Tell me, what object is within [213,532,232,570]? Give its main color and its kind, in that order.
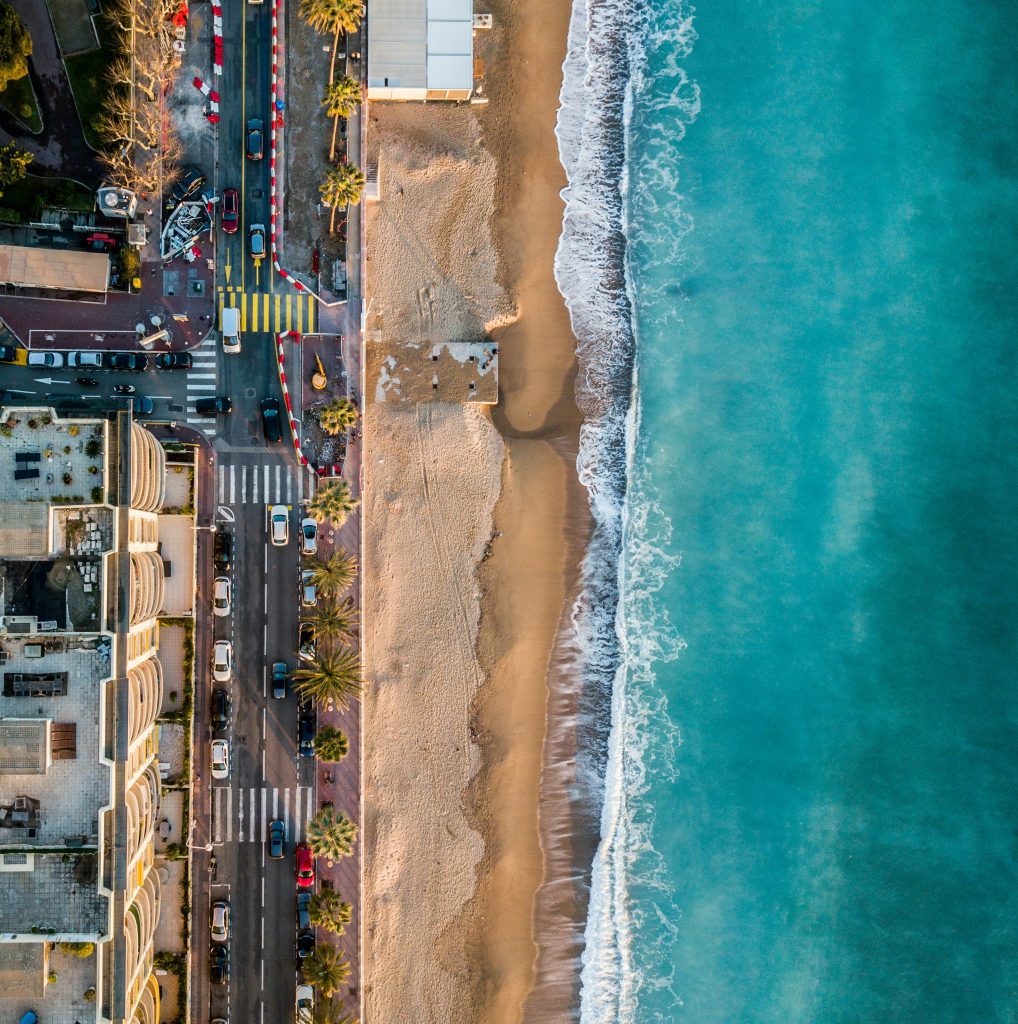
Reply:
black car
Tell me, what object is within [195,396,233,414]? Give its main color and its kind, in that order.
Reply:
black car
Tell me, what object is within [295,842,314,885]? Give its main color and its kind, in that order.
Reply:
red car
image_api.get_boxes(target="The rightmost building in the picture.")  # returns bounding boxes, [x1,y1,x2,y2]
[368,0,473,105]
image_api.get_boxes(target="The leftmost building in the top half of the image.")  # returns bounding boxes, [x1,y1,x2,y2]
[0,248,113,296]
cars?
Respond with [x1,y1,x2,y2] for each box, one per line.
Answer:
[249,226,267,258]
[295,842,314,885]
[67,350,105,370]
[210,899,229,940]
[111,352,150,371]
[300,519,319,554]
[246,123,265,160]
[298,928,314,961]
[211,738,230,778]
[156,351,194,370]
[249,0,265,5]
[269,661,288,699]
[195,396,233,414]
[295,891,314,928]
[298,622,317,659]
[268,819,285,857]
[213,576,232,617]
[211,690,230,730]
[269,505,289,546]
[220,192,240,232]
[213,639,231,680]
[0,389,27,406]
[123,396,159,415]
[28,351,66,370]
[295,983,314,1024]
[0,345,21,364]
[209,943,228,983]
[298,715,316,756]
[300,570,318,605]
[213,532,232,570]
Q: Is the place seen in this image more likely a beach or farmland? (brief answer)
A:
beach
